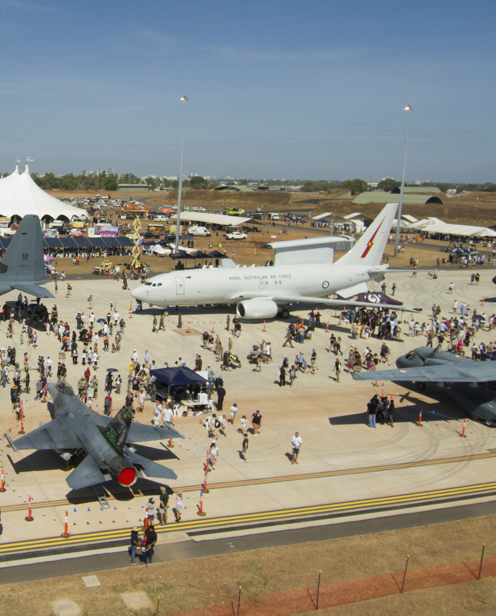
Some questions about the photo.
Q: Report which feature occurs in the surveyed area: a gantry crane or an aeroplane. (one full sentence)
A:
Looking from above, you can make out an aeroplane.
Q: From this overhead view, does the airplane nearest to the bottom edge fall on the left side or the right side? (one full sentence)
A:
The airplane nearest to the bottom edge is on the left side of the image.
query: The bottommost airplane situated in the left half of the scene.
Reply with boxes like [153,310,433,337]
[3,377,187,498]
